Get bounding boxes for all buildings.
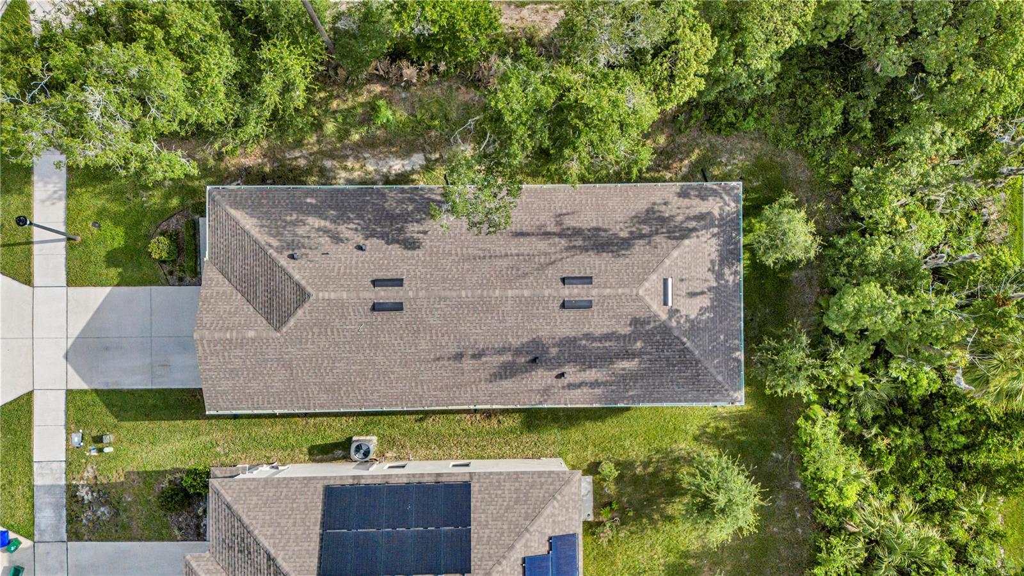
[191,169,745,413]
[183,457,584,576]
